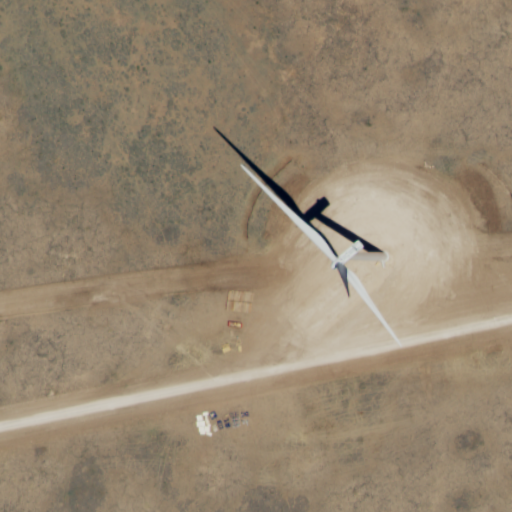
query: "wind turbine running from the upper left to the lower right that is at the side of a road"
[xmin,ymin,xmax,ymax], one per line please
[242,165,400,344]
